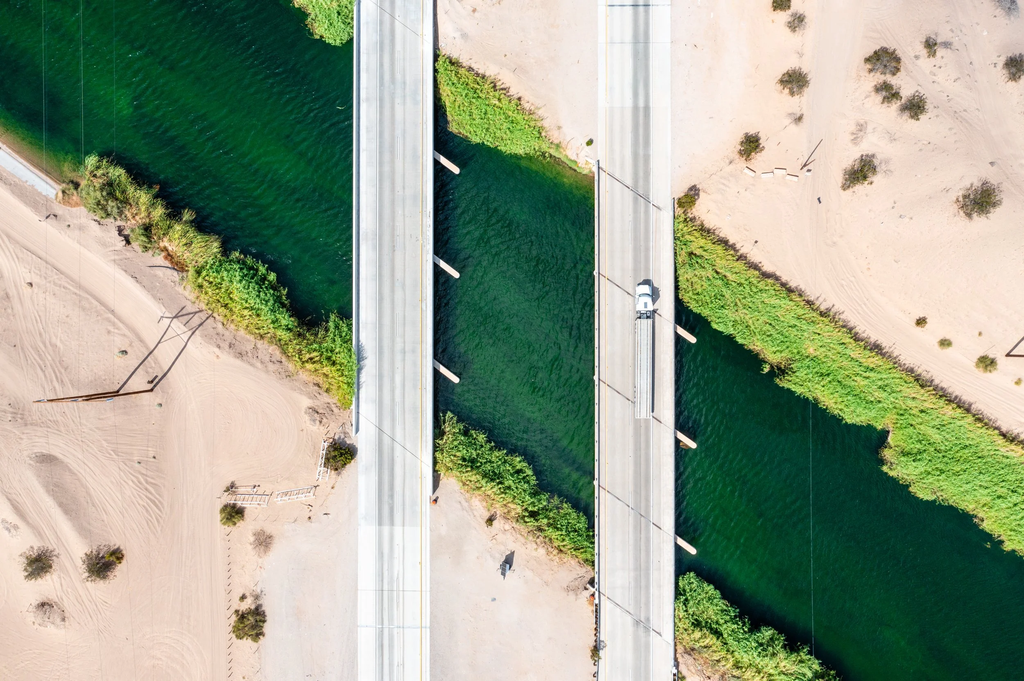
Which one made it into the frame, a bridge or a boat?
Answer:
bridge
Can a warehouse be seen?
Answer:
No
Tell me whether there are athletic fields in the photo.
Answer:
No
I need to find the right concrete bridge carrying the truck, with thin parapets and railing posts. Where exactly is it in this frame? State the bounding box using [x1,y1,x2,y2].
[583,155,697,670]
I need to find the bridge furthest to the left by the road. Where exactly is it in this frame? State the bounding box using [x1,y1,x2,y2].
[353,0,460,497]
